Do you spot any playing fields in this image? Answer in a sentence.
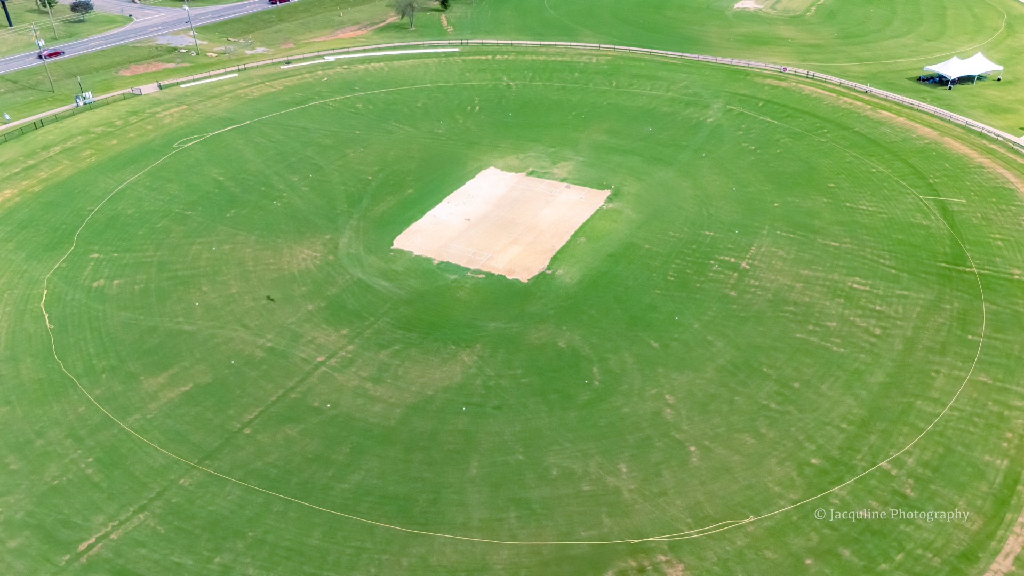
Yes, this view includes a playing field.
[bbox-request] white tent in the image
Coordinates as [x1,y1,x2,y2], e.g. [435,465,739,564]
[917,52,1005,89]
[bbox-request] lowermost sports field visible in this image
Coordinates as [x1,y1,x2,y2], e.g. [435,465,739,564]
[392,166,612,282]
